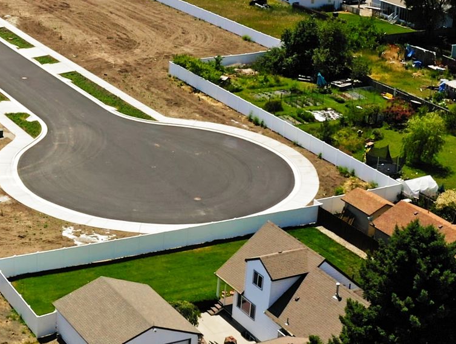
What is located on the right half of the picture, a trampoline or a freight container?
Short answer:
trampoline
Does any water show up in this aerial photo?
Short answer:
No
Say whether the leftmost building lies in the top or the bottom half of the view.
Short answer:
bottom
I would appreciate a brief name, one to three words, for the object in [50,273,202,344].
building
